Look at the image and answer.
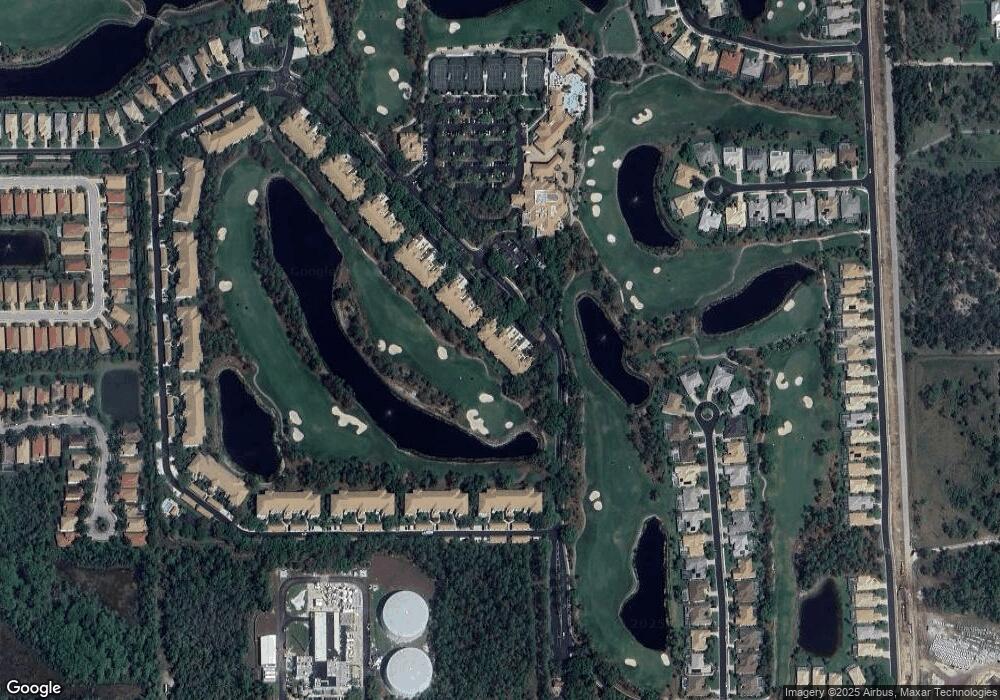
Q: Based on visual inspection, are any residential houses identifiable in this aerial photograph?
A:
Yes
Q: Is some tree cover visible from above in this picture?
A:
Yes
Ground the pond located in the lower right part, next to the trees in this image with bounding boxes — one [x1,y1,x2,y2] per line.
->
[797,578,842,655]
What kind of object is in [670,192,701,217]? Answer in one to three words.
house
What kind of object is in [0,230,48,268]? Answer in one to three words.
pond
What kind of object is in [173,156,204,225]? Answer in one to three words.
building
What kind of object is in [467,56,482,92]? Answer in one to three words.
tennis court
